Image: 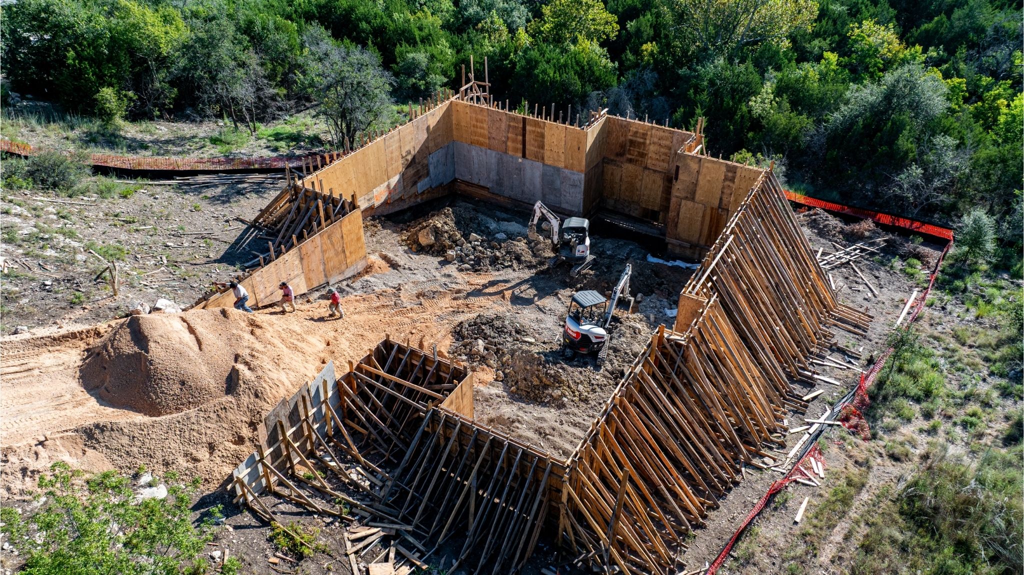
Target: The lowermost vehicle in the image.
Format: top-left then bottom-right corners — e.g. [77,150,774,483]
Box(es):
[560,268,640,363]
